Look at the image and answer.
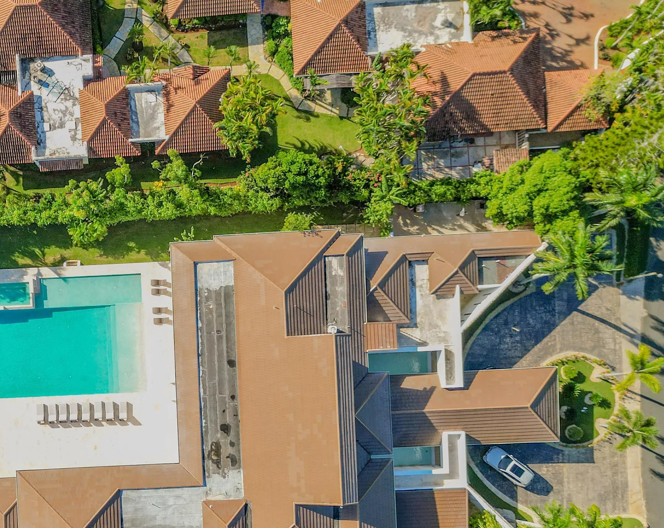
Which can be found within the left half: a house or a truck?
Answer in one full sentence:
It is a house that can be seen within the left half.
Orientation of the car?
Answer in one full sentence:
The car has been laid out diagonally relative to the frame.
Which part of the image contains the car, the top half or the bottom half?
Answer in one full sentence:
The bottom half of the photo is where the car is.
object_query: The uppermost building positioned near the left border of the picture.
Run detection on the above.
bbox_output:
[0,0,233,171]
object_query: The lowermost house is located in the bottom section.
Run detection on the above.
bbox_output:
[0,228,561,528]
